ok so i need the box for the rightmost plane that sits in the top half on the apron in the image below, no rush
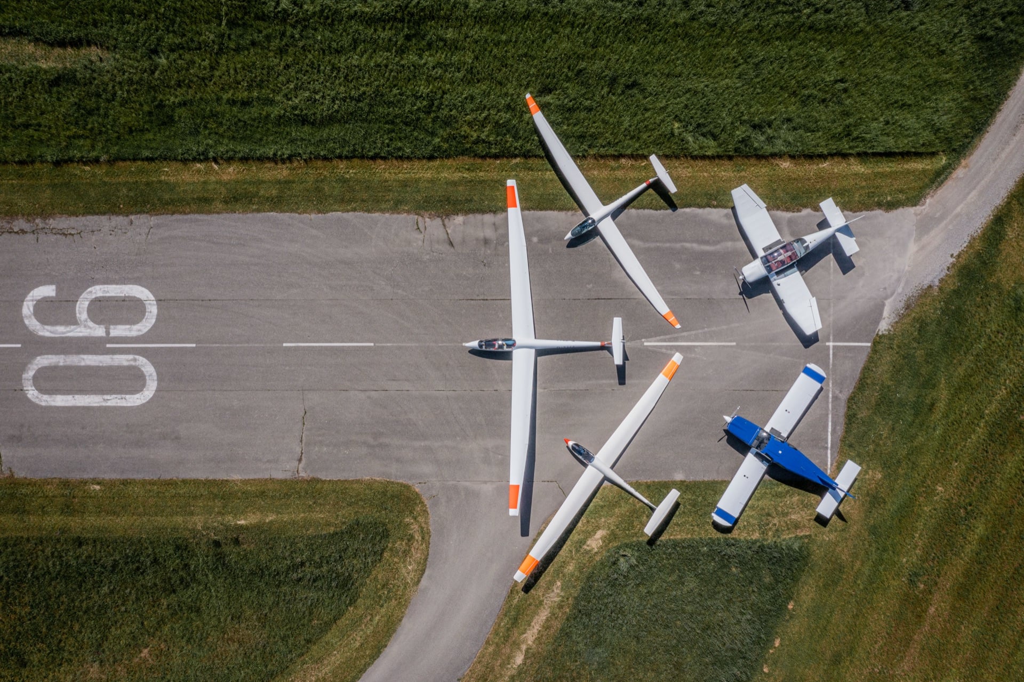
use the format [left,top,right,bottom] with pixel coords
[731,184,859,335]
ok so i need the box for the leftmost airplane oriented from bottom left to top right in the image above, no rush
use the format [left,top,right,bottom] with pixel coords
[514,353,683,582]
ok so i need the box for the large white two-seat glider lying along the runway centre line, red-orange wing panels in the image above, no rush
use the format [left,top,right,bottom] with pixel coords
[465,180,625,516]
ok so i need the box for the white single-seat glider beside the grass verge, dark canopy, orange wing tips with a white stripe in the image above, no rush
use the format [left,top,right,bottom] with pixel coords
[526,94,681,328]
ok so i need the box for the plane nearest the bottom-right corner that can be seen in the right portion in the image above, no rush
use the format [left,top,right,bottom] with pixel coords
[713,363,861,526]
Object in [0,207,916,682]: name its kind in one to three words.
runway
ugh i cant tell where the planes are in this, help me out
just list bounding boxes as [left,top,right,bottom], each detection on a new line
[526,94,681,328]
[731,184,859,335]
[713,363,861,526]
[514,353,683,582]
[465,180,625,516]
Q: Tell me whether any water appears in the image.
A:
No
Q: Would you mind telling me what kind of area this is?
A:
airport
